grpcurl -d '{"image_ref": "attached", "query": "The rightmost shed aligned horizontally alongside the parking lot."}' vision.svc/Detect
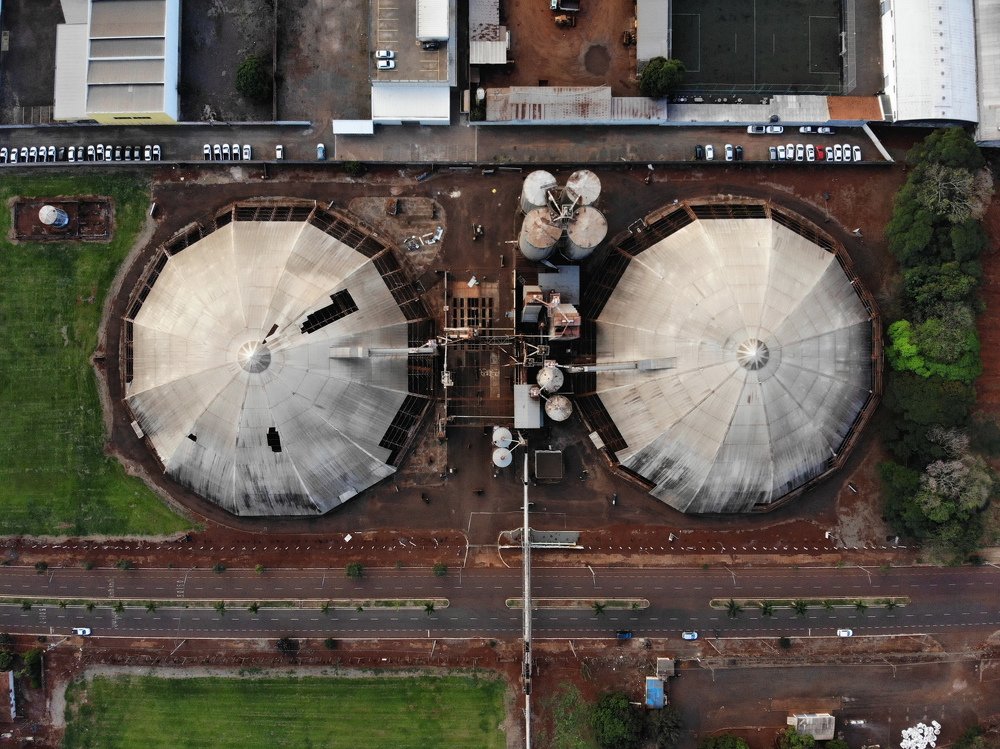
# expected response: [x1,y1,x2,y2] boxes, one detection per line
[486,85,611,120]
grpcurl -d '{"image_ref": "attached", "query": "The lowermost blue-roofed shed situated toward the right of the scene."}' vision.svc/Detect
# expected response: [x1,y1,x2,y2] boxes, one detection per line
[644,674,667,708]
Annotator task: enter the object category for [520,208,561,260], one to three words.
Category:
silo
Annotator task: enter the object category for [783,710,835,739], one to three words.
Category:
building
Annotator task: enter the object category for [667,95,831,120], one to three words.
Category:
shed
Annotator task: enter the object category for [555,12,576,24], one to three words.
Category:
vehicle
